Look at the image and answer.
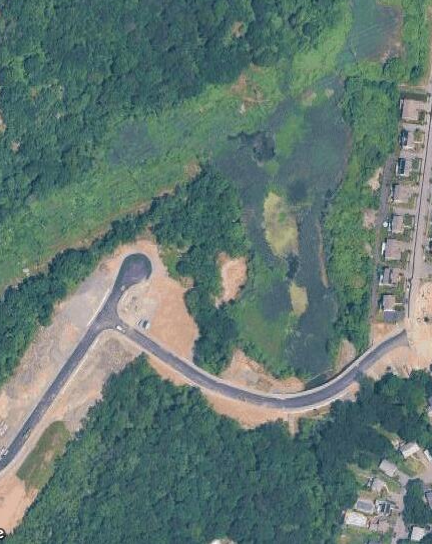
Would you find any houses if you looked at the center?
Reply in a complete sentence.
No, no house is visible at the center.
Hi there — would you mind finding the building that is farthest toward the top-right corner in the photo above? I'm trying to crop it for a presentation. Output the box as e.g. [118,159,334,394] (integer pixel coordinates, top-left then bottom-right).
[399,97,420,119]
